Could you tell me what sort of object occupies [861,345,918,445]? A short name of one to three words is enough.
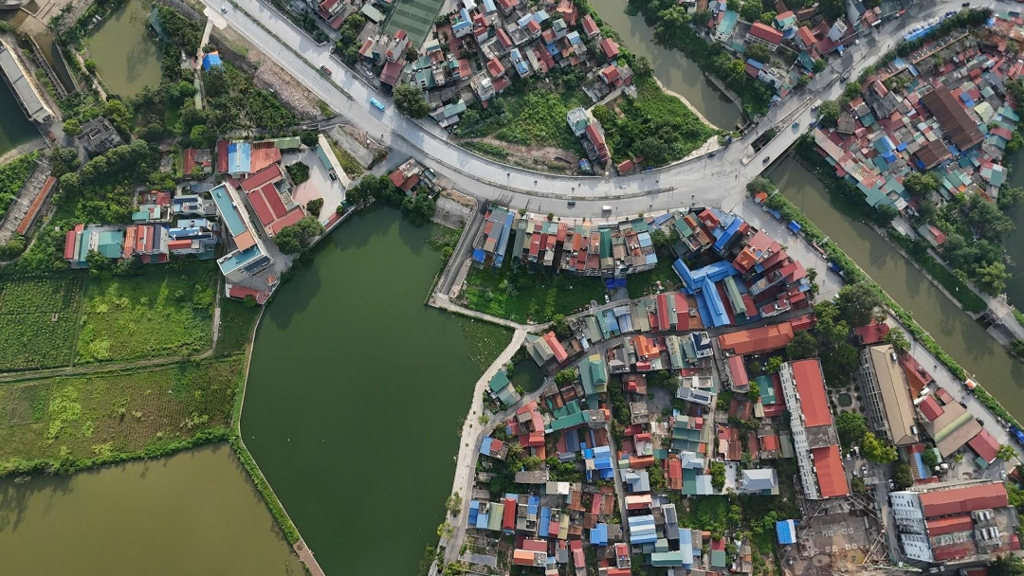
building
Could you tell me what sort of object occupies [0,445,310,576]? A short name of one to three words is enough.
pond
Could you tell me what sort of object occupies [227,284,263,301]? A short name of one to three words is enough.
shed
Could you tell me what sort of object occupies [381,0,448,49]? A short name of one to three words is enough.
soccer field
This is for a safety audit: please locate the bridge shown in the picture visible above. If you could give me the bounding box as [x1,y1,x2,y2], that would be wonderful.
[728,116,802,181]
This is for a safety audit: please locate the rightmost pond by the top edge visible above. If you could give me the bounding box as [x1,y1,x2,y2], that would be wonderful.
[90,0,161,97]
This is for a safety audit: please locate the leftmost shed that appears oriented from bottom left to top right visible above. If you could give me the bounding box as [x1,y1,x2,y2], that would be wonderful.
[12,181,58,242]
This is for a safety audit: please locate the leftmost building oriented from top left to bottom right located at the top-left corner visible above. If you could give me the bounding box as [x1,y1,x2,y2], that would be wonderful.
[0,30,64,132]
